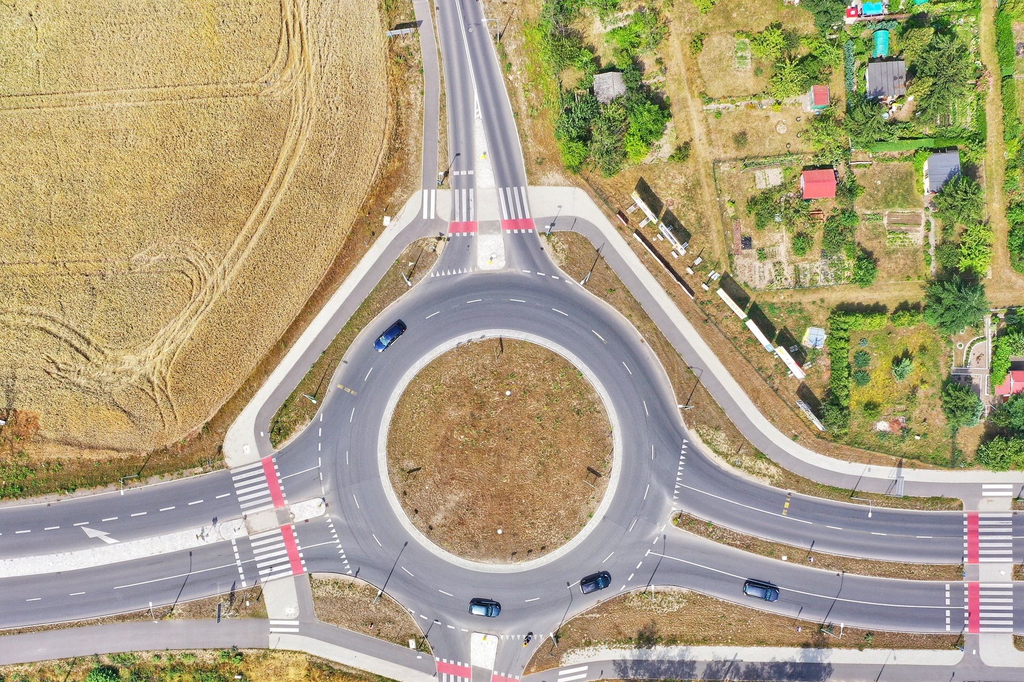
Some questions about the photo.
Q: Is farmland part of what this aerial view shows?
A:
Yes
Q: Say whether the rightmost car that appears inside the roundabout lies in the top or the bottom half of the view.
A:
bottom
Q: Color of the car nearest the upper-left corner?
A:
blue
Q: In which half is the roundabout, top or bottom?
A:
bottom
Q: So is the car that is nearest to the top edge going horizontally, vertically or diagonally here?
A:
diagonally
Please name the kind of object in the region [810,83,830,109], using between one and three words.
shed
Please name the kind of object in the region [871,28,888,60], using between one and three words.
greenhouse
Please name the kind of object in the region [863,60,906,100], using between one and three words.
shed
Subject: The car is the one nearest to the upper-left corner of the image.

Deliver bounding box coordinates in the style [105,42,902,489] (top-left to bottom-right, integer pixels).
[373,322,405,352]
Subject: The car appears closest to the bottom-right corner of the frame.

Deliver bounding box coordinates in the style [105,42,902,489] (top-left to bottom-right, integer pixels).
[743,584,778,602]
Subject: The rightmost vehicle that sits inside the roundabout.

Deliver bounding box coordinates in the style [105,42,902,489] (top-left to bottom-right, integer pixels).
[579,574,611,595]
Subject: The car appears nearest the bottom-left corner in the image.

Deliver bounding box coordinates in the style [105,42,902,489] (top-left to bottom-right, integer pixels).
[469,602,500,618]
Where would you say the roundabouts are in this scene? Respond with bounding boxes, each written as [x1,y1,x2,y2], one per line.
[319,265,715,640]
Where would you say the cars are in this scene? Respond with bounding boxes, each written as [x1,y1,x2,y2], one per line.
[373,322,405,352]
[579,574,611,595]
[469,602,500,618]
[743,584,778,602]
